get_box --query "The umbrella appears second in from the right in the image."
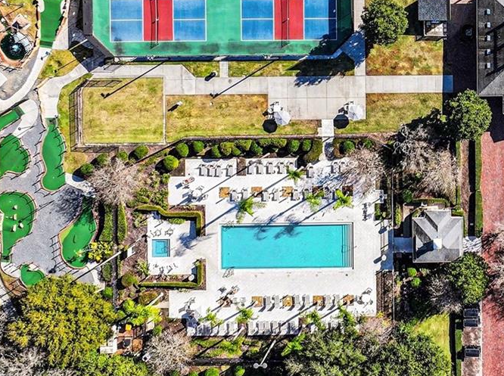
[273,109,290,125]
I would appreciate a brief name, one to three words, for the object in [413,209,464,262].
building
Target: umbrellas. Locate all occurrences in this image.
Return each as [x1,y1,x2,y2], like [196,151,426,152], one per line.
[348,104,363,121]
[273,109,290,125]
[181,311,198,329]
